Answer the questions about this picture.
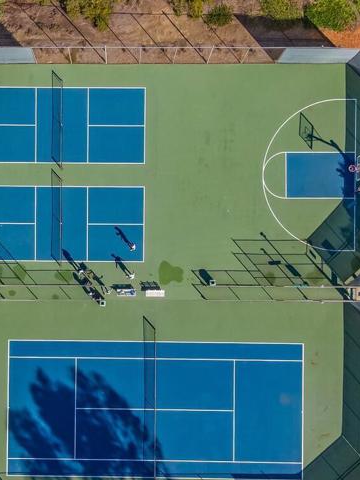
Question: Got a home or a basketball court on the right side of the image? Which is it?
basketball court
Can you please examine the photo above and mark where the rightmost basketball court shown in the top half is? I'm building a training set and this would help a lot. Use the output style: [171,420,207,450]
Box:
[261,98,356,251]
